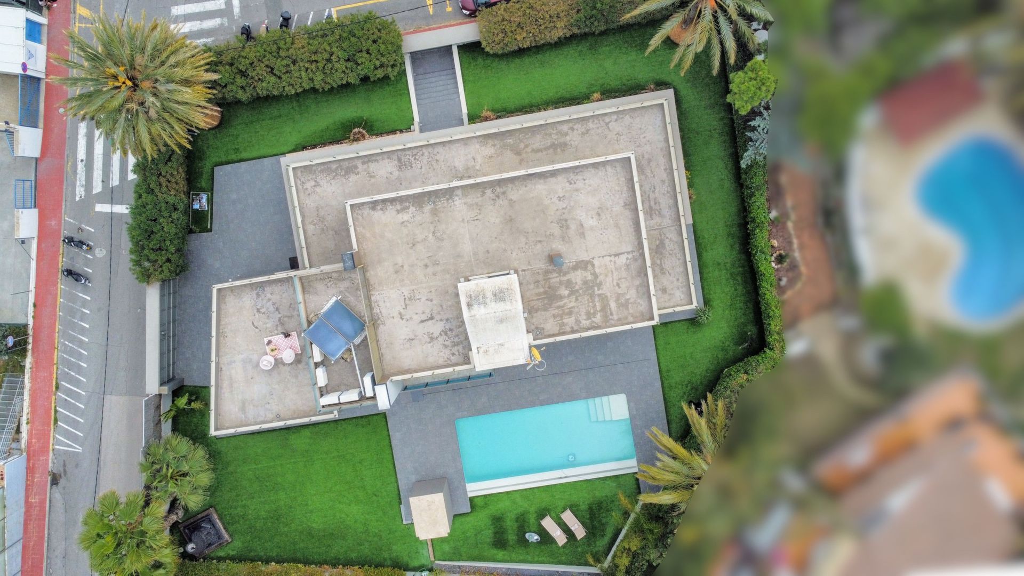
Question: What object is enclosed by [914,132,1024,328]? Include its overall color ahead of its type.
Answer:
blue swimming pool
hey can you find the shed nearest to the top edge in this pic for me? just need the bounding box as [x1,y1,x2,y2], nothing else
[0,8,45,82]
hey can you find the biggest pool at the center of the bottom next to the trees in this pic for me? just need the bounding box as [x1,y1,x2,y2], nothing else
[456,394,639,497]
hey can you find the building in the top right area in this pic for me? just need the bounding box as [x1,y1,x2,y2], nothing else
[875,59,982,151]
